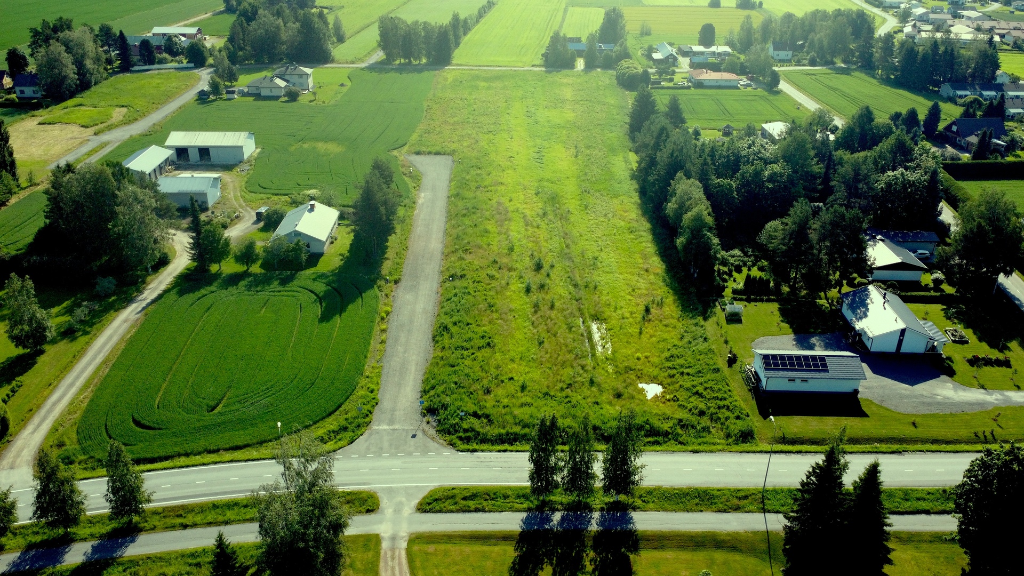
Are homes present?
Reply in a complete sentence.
Yes, there's a home here.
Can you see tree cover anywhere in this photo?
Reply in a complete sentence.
Yes, tree cover can be seen from above here.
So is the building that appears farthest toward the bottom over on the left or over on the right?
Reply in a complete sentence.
The building that appears farthest toward the bottom appears in the right half of the scene.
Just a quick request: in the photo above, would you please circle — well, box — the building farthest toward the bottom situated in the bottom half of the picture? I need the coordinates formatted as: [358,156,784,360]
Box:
[752,348,867,393]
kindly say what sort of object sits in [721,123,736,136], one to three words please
gazebo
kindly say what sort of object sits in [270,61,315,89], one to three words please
house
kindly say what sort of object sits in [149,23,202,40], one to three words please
barn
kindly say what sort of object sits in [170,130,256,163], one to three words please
barn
